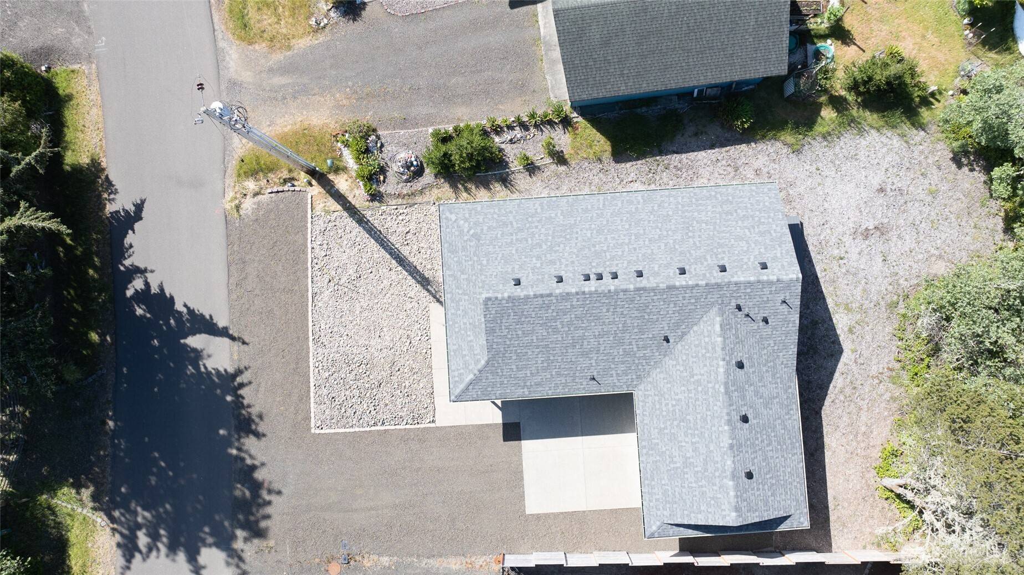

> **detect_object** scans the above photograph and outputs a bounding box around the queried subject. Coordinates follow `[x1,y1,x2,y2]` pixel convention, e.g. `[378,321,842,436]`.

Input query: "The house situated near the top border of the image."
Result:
[551,0,791,111]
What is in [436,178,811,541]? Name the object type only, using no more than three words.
house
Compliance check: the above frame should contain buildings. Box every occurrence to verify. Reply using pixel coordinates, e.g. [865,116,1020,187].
[436,178,811,541]
[551,0,791,111]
